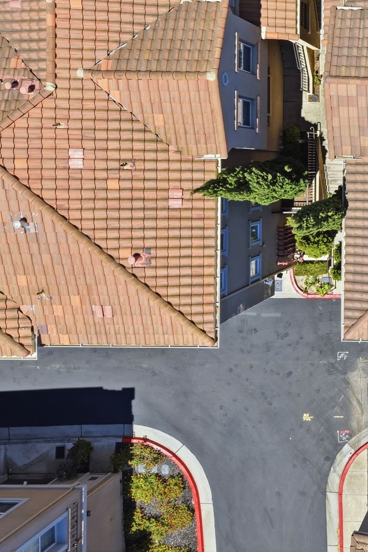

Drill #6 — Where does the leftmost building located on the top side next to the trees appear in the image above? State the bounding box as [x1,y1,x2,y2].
[0,0,320,361]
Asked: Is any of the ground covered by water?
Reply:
No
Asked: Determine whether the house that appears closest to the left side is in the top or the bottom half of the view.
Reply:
bottom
